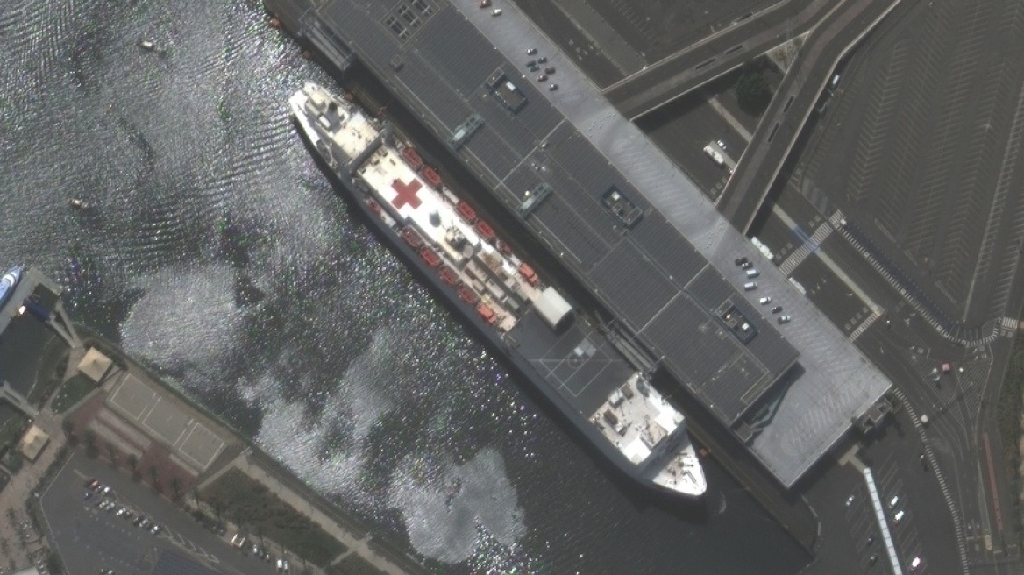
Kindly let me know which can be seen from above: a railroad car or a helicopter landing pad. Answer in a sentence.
The one in the frame is a helicopter landing pad.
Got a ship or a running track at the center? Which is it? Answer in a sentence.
You can see a ship at the center.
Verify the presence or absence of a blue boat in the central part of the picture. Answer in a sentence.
No, I can find no blue boat in the central part of the picture.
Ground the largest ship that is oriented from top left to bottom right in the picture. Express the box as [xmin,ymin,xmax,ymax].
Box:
[286,55,736,496]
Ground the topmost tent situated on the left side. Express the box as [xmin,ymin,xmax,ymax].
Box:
[78,351,113,384]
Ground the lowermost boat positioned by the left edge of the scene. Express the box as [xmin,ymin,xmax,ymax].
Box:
[0,267,21,308]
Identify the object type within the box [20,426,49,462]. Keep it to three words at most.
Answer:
tent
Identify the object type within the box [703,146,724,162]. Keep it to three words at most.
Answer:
vehicle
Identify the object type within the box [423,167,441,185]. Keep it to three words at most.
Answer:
boat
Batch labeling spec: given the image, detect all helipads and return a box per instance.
[529,325,627,396]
